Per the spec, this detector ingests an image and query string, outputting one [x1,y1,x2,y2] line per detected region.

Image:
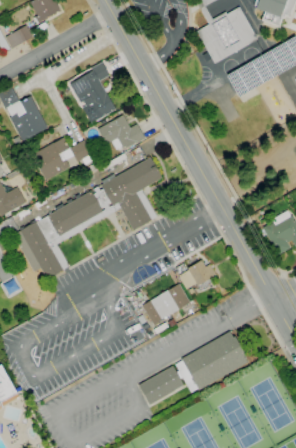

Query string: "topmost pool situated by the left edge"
[2,278,24,298]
